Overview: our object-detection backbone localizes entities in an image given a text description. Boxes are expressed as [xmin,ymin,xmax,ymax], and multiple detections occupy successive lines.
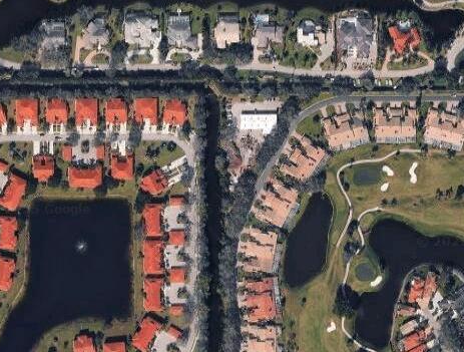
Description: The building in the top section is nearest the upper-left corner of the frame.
[41,22,65,52]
